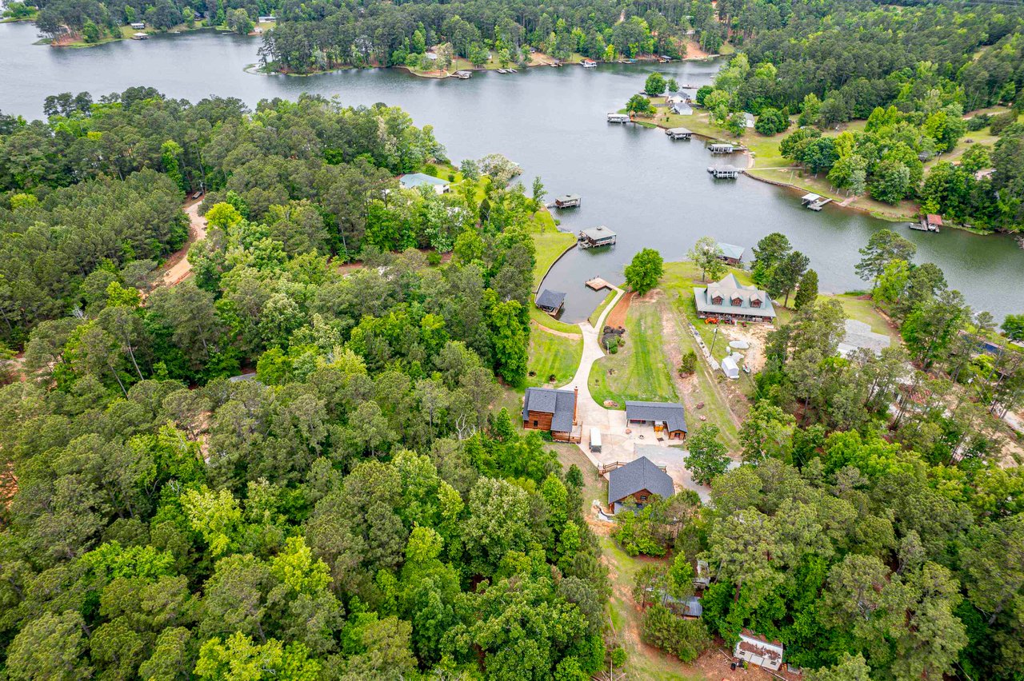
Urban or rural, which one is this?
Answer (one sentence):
This place is rural.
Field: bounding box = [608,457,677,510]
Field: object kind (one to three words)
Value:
building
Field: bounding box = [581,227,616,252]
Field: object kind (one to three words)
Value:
building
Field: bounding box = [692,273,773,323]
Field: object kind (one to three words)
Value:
house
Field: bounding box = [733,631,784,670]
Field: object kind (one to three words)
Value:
vehicle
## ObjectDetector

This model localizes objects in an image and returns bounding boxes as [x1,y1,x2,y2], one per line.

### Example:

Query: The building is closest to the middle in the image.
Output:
[537,293,570,321]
